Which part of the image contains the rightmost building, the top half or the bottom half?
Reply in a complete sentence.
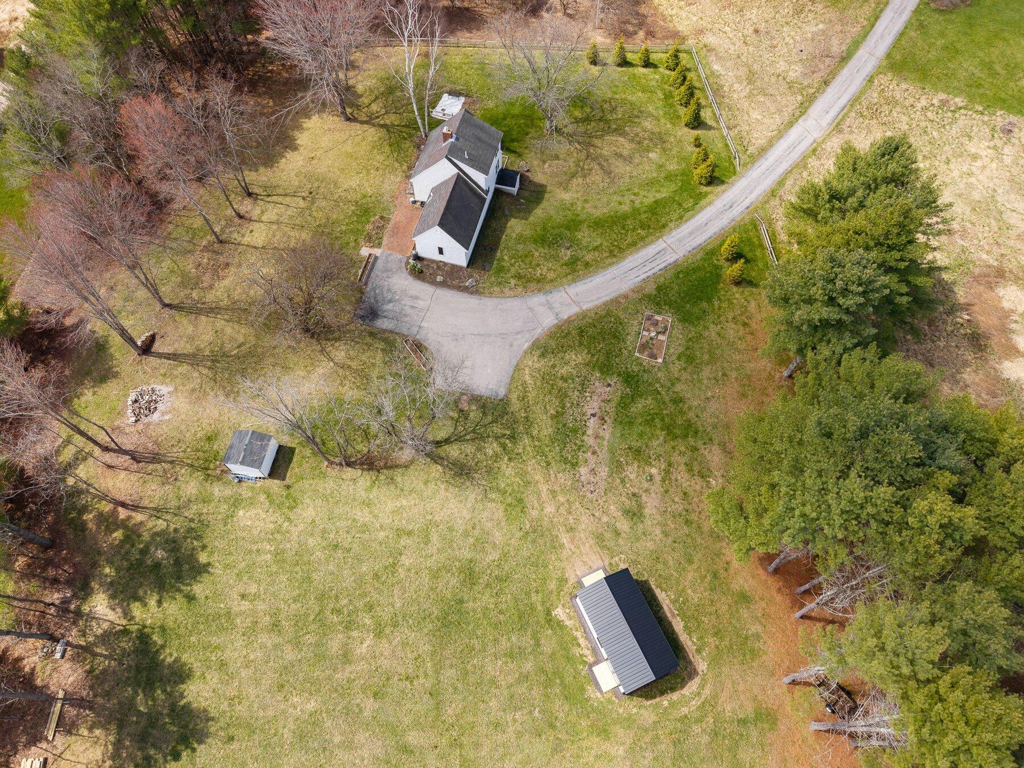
The rightmost building sits in the bottom half of the picture.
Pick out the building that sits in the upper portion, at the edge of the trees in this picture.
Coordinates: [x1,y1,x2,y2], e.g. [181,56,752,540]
[409,107,521,266]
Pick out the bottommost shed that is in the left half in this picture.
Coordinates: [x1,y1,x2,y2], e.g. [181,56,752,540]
[223,428,278,478]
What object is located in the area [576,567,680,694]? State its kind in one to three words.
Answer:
building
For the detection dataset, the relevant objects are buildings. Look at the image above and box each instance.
[223,428,278,478]
[576,567,680,694]
[409,107,521,266]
